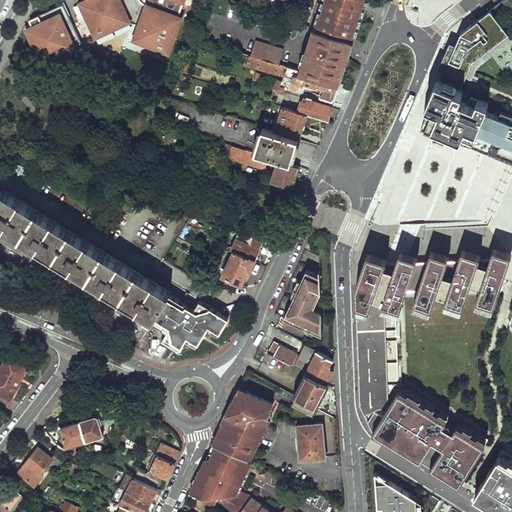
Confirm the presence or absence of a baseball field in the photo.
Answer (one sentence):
No, no baseball field can be seen from above.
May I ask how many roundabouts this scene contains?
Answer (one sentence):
Looking from above, you can make out 2 roundabouts.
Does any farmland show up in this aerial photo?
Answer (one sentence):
No, there is no farmland in the image.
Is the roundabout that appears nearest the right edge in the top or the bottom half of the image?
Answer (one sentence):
Seen from above, the roundabout that appears nearest the right edge lies in the top half of the view.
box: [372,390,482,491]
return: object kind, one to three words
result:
building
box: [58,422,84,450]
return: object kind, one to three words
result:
house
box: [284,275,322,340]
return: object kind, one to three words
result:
house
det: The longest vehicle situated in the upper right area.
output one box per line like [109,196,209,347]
[400,95,413,122]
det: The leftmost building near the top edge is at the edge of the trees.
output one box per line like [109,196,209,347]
[24,2,82,64]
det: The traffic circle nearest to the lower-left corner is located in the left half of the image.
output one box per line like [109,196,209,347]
[163,364,225,432]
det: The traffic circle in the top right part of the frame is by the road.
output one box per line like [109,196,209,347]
[347,42,416,160]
